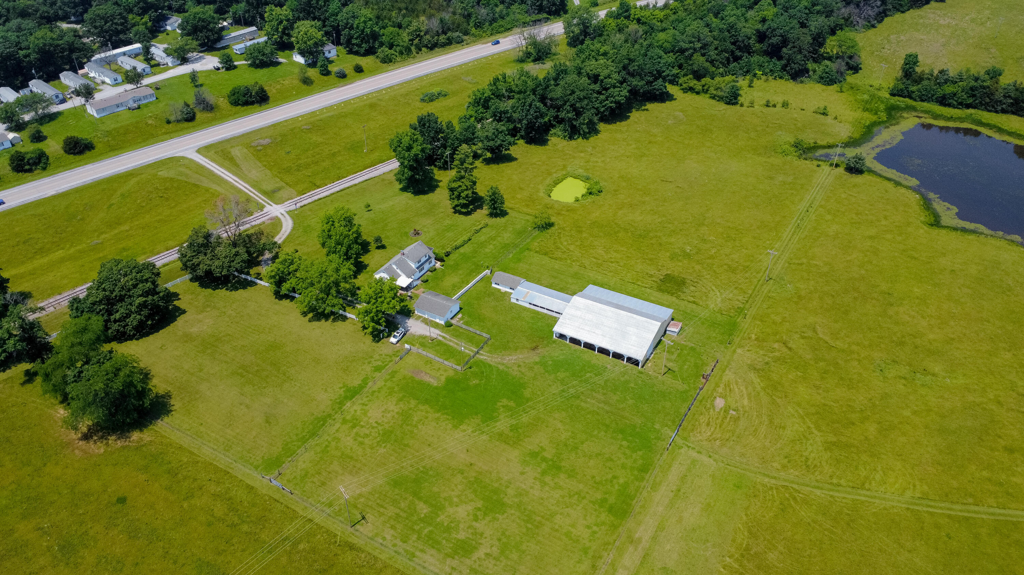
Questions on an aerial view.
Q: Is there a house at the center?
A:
Yes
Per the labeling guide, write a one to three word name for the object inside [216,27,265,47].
house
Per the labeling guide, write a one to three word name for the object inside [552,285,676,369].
barn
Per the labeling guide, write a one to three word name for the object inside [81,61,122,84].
house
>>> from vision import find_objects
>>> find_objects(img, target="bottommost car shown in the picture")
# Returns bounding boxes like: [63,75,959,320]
[388,327,406,343]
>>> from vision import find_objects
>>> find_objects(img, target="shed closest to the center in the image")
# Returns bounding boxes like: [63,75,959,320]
[490,269,525,293]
